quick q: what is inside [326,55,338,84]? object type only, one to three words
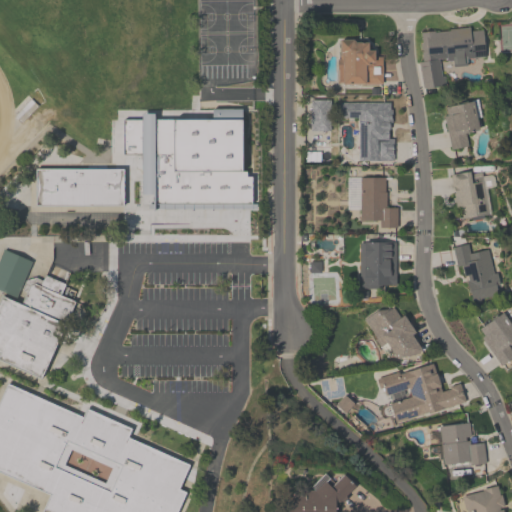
swimming pool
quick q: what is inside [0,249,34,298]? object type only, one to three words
barn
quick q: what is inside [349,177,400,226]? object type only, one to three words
house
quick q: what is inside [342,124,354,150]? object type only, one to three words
swimming pool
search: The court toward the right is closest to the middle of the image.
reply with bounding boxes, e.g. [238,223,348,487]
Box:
[310,272,341,309]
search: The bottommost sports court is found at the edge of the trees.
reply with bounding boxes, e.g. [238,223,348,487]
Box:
[320,376,347,402]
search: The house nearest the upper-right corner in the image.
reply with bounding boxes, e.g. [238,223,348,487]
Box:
[422,26,486,88]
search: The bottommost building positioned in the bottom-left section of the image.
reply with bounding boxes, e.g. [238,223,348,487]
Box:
[0,383,192,512]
